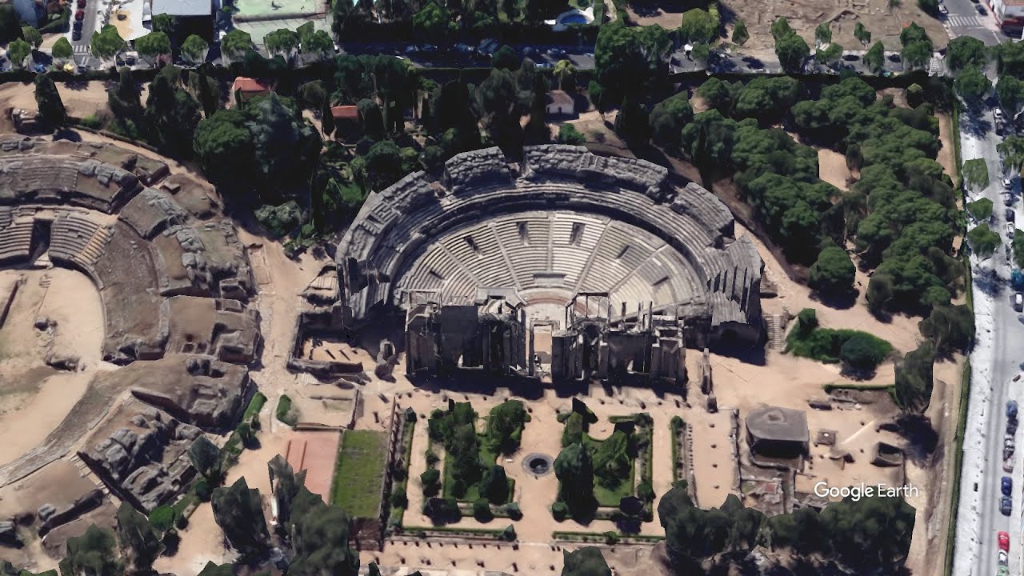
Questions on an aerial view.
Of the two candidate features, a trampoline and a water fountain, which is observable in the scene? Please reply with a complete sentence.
Visible in the photo is a water fountain.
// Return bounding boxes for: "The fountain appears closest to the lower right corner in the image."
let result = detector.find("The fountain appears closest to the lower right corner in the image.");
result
[521,451,554,476]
